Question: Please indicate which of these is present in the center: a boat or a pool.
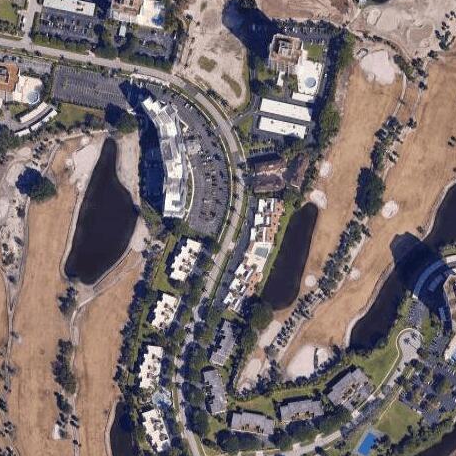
pool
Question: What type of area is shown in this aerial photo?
golf course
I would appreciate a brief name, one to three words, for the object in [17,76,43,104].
swimming pool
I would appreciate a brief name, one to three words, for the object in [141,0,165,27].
swimming pool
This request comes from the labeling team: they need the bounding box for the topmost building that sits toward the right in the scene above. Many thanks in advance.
[269,33,303,72]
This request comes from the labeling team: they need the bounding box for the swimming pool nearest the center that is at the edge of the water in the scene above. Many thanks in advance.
[247,243,272,272]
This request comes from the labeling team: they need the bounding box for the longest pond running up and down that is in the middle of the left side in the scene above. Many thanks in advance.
[65,138,138,283]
